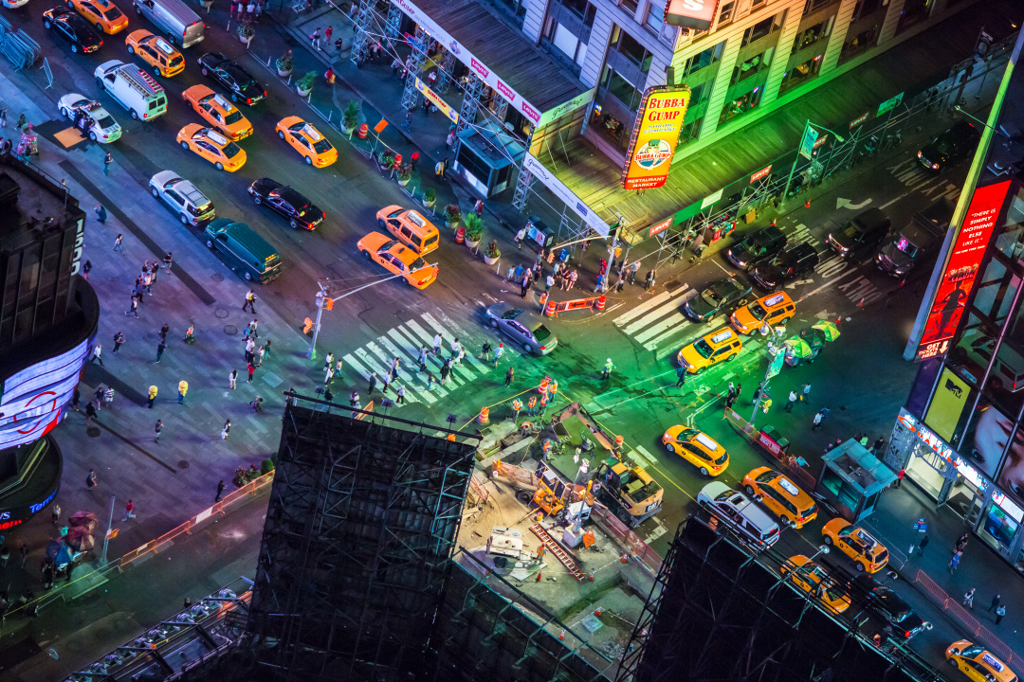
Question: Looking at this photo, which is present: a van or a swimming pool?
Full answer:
Of the two, only a van appears.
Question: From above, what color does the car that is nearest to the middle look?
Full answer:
The car that is nearest to the middle looks blue in the image.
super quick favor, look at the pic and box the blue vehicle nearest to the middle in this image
[477,309,564,360]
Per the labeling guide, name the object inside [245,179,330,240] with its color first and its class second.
black car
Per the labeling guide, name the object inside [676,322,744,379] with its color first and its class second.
yellow car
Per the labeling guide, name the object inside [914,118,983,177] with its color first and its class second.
black car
